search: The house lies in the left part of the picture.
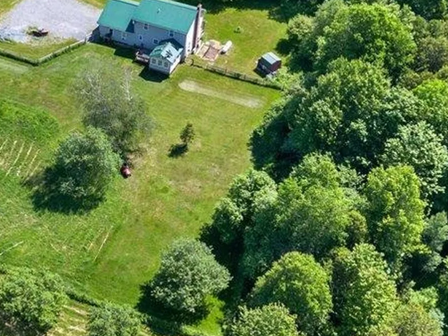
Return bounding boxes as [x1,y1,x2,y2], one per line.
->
[97,0,205,75]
